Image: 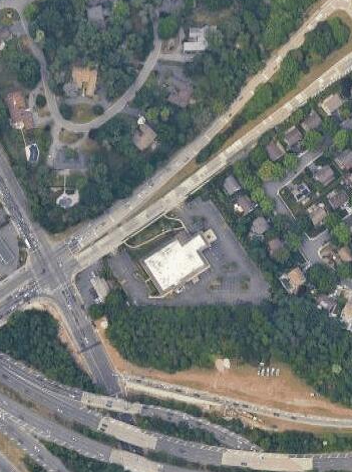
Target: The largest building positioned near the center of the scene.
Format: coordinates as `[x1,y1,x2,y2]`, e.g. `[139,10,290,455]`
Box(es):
[144,235,205,291]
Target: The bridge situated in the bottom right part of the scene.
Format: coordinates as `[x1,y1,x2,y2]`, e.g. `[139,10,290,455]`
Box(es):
[221,450,313,472]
